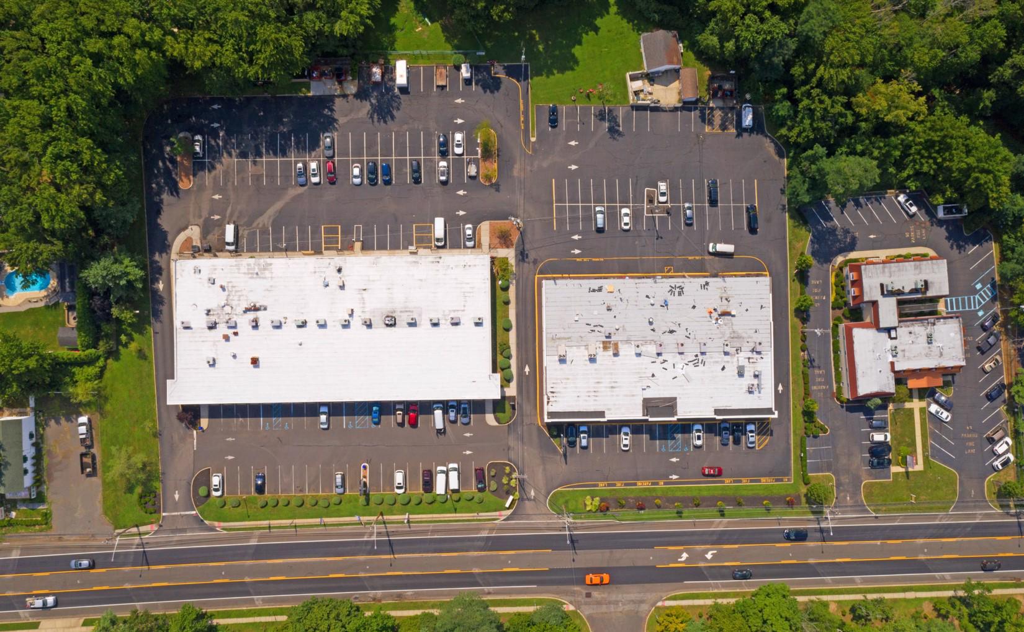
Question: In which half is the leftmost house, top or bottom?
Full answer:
The leftmost house sits in the bottom half of the picture.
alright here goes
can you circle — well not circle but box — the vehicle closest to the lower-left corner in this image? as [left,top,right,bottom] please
[26,594,59,609]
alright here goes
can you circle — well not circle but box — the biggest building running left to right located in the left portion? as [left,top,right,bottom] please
[166,254,502,405]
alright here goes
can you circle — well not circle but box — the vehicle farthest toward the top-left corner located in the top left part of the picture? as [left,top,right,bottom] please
[192,134,205,158]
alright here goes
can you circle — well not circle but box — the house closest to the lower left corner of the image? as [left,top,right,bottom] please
[0,416,40,499]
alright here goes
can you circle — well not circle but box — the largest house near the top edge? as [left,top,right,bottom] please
[639,29,687,74]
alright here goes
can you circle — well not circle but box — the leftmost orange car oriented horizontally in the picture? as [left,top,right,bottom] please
[585,573,610,585]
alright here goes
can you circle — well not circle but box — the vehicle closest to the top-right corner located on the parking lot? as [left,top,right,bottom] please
[896,193,917,217]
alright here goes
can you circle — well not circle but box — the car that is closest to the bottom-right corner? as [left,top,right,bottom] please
[978,559,1000,571]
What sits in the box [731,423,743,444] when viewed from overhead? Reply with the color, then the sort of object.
black vehicle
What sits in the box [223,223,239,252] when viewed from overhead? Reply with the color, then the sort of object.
white vehicle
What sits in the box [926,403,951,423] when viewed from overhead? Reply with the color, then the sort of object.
white car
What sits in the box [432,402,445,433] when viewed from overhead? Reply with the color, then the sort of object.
white vehicle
